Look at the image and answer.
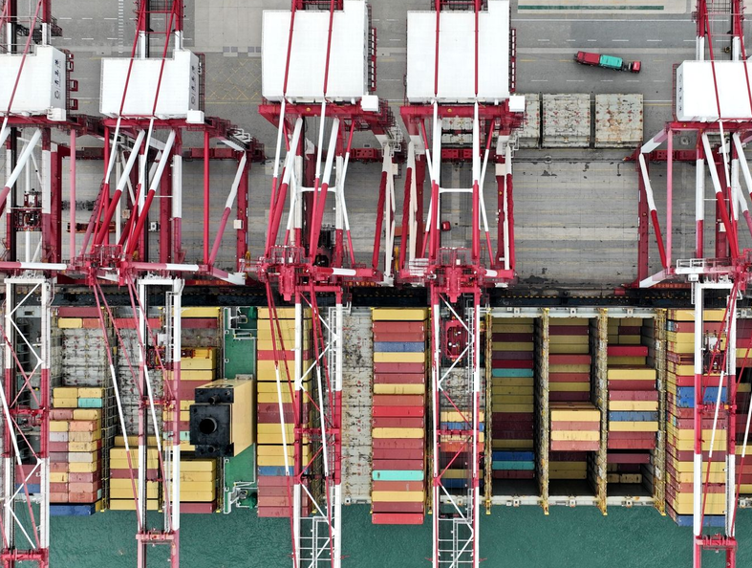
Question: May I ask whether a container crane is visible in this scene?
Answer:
Yes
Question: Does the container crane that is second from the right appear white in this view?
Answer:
Yes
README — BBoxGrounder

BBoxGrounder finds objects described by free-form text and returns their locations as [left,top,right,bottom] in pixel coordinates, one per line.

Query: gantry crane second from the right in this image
[401,0,527,568]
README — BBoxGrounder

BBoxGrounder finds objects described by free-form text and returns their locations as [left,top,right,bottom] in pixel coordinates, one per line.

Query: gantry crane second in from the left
[84,0,270,568]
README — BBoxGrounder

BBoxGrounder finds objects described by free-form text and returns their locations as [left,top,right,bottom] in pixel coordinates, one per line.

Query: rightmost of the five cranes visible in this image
[619,0,752,568]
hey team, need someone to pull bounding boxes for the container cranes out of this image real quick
[261,0,397,568]
[401,0,527,568]
[84,0,270,568]
[0,0,163,568]
[619,0,752,568]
